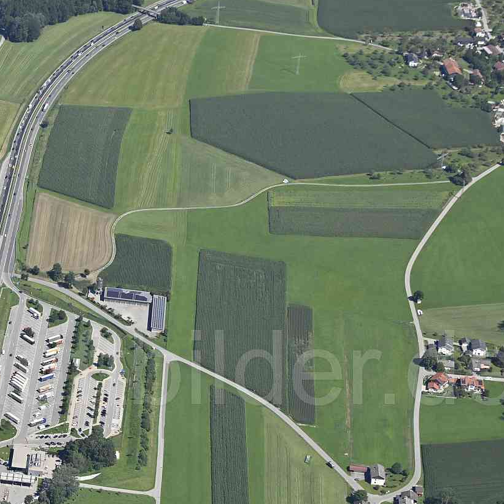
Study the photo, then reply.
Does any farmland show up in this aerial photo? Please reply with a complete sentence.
Yes, farmland can be seen from above here.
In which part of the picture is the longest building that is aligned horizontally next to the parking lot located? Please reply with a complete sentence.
The longest building that is aligned horizontally next to the parking lot sits in the left section of the image.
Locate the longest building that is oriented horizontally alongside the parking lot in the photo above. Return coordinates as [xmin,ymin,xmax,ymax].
[104,287,152,307]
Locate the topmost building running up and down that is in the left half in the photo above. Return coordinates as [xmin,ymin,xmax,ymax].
[152,296,167,337]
